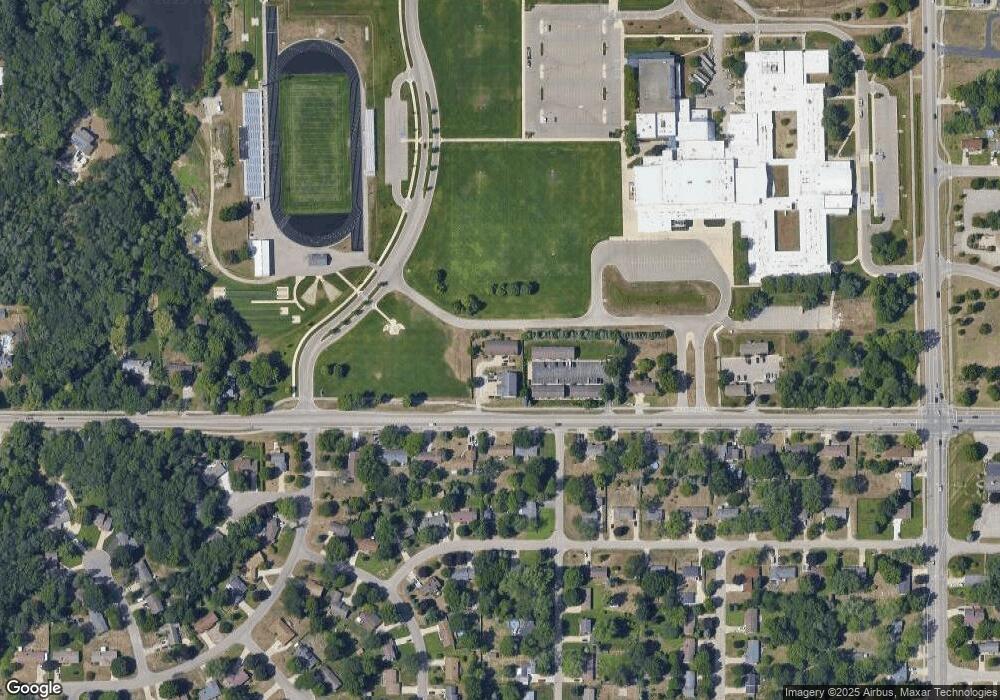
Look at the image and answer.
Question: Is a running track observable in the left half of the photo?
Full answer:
Yes, looking in the left half of the photo, one can make out a running track.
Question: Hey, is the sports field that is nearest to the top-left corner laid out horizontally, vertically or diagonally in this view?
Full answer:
The sports field that is nearest to the top-left corner has been laid out vertically relative to the frame.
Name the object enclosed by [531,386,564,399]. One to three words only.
building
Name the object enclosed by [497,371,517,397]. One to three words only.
building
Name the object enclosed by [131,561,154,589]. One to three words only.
house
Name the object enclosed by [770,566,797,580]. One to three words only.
house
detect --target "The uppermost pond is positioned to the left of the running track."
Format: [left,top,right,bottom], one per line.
[127,0,217,92]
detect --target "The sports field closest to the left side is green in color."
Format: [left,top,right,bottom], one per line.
[279,73,351,215]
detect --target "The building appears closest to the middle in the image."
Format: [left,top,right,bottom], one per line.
[484,341,518,355]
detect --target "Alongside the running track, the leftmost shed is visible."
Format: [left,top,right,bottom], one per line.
[254,239,270,276]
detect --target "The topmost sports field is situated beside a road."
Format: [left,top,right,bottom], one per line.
[418,0,521,139]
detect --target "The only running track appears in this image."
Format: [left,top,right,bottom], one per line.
[265,8,364,250]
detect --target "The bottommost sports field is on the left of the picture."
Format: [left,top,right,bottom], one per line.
[315,294,472,398]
